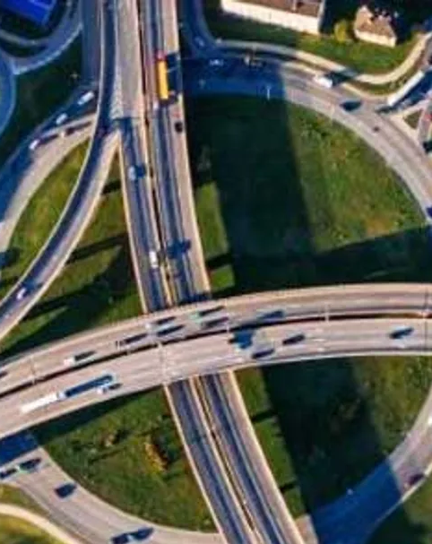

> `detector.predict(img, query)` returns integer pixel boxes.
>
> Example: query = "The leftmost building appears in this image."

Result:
[0,0,63,29]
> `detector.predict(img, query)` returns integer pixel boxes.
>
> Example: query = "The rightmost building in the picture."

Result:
[353,4,404,47]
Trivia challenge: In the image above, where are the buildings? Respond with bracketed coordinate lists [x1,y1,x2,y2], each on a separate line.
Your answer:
[353,4,404,47]
[0,0,63,29]
[226,0,324,33]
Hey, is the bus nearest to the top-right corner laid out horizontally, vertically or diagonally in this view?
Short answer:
diagonally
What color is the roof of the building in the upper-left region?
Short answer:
blue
